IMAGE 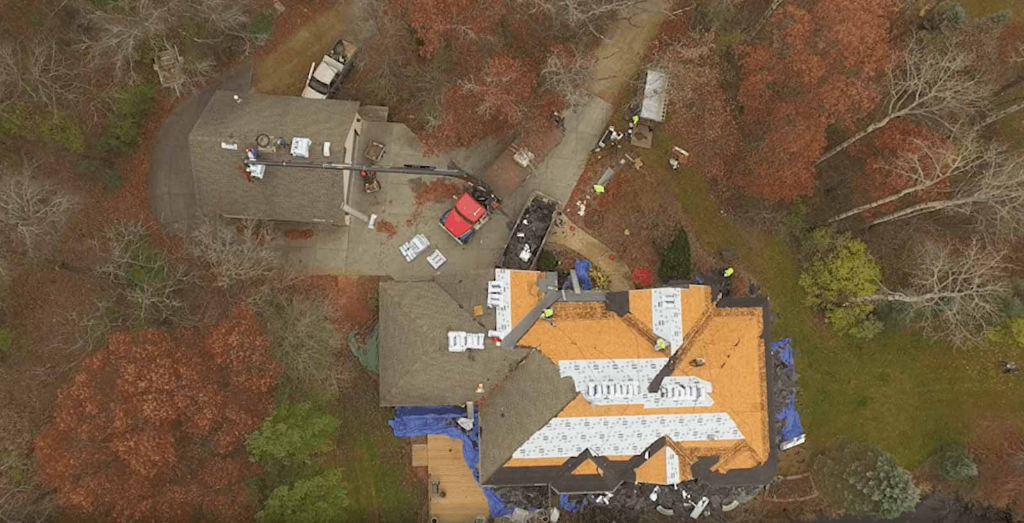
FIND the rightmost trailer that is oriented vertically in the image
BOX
[634,66,667,155]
